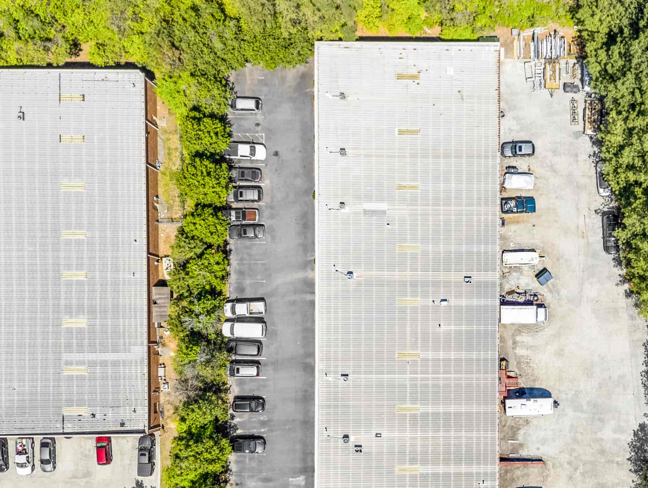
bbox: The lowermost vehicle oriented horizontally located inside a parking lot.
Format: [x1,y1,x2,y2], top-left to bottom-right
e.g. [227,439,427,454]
[230,438,268,455]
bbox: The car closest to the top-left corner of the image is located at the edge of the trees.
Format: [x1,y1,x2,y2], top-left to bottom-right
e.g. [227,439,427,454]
[227,96,263,114]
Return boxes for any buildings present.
[0,66,161,435]
[315,40,502,488]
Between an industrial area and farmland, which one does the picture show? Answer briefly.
industrial area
